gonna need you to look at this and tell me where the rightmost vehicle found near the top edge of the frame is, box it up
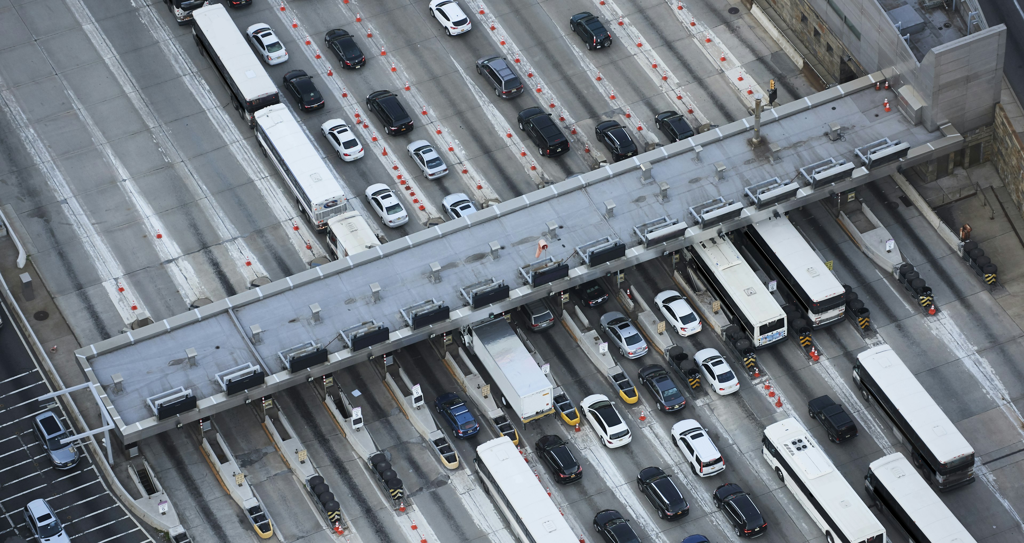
[571,11,613,54]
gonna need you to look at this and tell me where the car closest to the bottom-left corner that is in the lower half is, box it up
[23,500,71,543]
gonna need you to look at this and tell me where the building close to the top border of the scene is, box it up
[766,0,1009,184]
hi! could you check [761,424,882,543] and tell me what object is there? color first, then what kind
white bus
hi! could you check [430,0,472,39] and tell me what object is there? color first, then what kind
white car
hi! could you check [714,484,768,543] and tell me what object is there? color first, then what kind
black car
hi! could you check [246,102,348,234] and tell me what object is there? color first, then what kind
white bus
